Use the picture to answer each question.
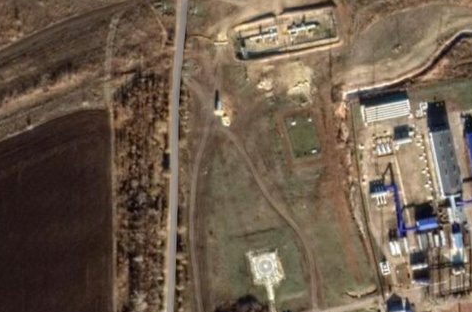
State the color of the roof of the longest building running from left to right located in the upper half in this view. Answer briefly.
white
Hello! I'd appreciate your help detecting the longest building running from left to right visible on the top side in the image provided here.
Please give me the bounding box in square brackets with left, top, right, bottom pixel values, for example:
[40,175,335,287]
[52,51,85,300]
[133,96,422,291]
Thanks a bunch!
[365,101,410,120]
